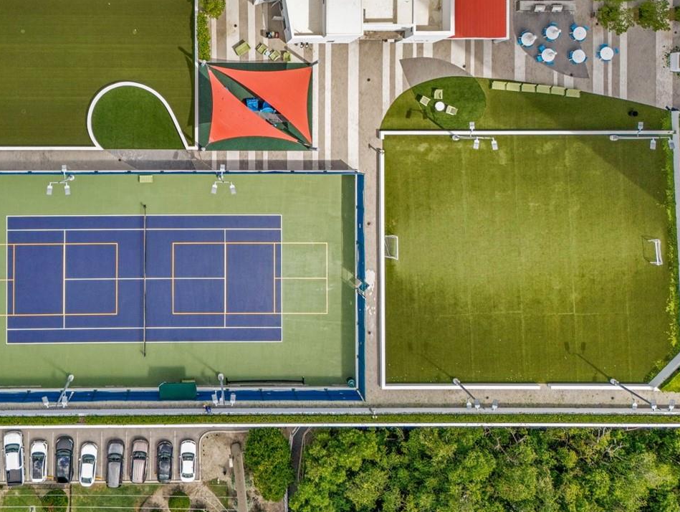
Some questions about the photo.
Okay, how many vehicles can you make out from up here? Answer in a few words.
8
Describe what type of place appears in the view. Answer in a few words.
sports ground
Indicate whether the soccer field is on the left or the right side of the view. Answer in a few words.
right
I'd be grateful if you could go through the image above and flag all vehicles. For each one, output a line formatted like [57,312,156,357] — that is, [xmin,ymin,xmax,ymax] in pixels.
[103,439,127,487]
[77,441,97,487]
[155,439,175,484]
[129,438,150,484]
[178,438,198,483]
[2,430,26,486]
[52,434,74,485]
[27,438,48,484]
